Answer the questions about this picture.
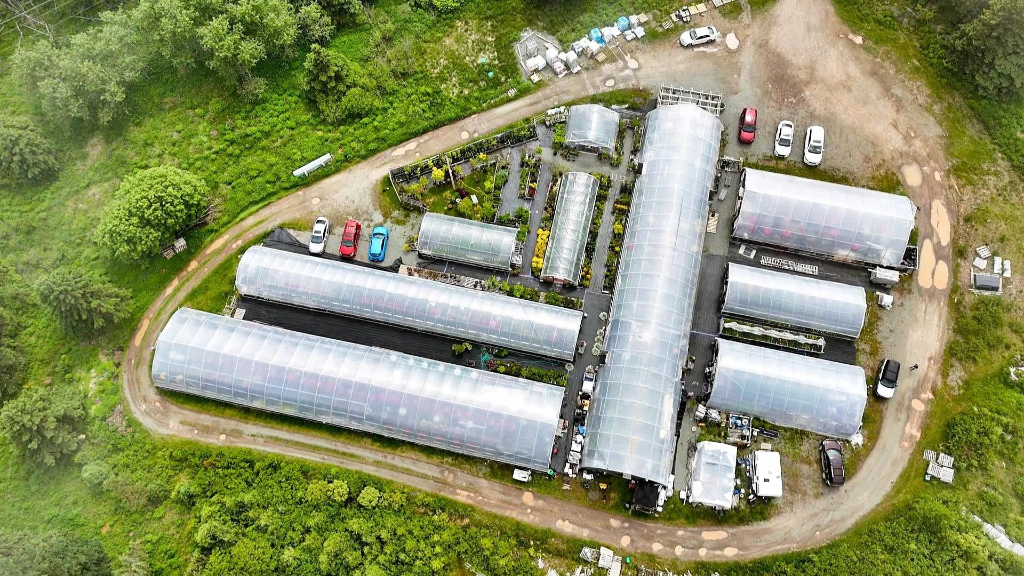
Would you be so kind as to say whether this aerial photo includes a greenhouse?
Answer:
Yes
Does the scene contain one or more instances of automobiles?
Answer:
Yes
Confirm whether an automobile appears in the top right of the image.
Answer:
Yes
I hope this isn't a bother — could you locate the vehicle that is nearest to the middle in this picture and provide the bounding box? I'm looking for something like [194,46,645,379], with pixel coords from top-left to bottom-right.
[368,223,389,262]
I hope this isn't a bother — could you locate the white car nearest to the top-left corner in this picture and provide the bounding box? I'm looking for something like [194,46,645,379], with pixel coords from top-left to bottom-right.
[306,213,329,255]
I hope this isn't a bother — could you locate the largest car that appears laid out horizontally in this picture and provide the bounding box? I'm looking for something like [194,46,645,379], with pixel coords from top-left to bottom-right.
[679,22,722,45]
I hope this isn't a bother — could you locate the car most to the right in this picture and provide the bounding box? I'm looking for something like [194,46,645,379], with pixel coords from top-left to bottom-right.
[877,355,903,401]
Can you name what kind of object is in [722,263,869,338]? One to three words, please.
greenhouse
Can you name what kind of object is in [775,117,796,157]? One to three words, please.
car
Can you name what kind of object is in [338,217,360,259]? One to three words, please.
car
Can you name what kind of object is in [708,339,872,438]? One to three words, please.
greenhouse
